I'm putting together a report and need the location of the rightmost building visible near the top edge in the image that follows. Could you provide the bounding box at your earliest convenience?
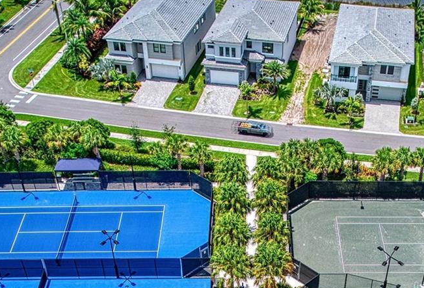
[329,3,415,101]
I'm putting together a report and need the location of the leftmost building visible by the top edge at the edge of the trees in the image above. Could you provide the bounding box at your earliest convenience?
[104,0,211,80]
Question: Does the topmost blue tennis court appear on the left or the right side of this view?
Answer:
left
